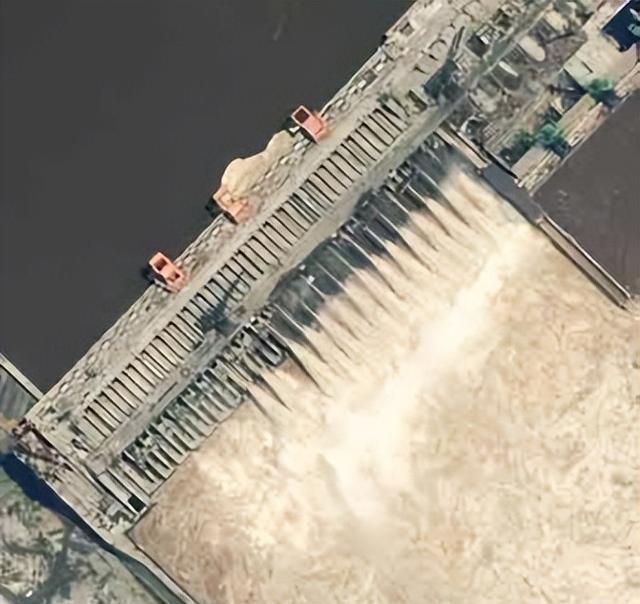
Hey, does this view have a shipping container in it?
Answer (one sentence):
No, I can see no shipping container in this picture.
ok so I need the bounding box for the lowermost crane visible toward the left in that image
[211,276,244,333]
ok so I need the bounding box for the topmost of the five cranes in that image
[432,26,464,107]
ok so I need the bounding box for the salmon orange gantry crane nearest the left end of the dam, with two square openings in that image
[148,254,187,293]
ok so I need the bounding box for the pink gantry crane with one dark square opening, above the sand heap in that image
[291,106,329,145]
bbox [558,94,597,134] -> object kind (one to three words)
shed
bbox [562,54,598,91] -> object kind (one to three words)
building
